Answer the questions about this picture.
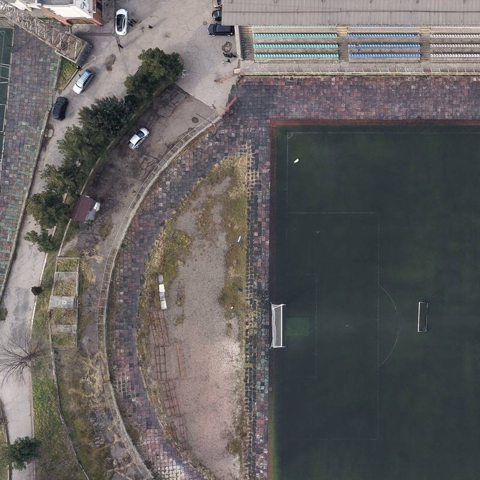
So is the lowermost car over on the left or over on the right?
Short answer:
left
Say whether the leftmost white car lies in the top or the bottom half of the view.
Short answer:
top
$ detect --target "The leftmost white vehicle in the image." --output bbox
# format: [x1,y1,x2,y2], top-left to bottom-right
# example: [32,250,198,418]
[71,66,93,93]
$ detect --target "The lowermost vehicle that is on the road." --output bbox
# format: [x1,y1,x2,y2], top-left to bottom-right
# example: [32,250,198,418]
[125,125,147,150]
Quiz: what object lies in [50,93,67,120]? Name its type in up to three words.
car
